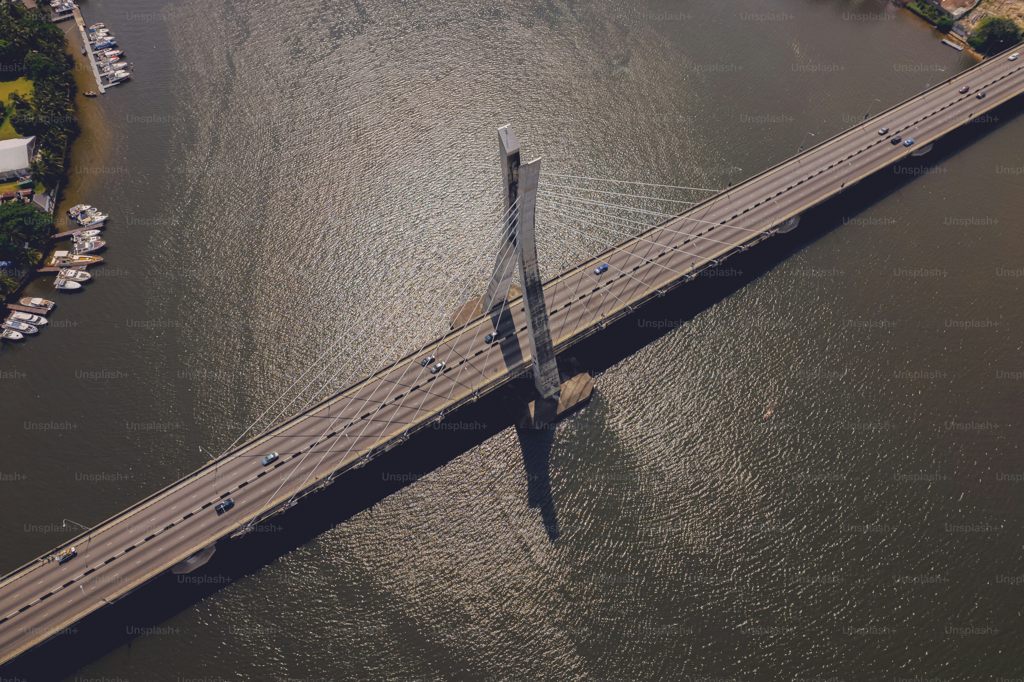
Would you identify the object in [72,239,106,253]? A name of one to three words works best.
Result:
boat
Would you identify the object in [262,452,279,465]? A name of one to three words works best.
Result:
vehicle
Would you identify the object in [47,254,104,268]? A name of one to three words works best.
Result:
boat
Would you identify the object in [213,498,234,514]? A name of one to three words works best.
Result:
vehicle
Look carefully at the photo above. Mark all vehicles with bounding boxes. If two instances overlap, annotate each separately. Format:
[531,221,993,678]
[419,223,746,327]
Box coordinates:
[429,362,444,374]
[56,547,78,563]
[483,331,500,343]
[594,264,608,274]
[902,139,914,146]
[420,355,435,366]
[959,85,970,93]
[262,452,279,465]
[213,498,234,514]
[1008,51,1019,60]
[975,92,985,99]
[890,136,901,144]
[877,126,889,135]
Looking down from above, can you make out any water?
Yes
